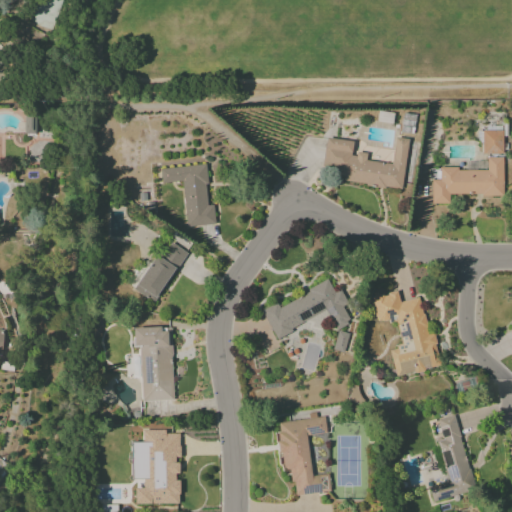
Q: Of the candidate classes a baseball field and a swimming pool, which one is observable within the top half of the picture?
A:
swimming pool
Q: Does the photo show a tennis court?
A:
Yes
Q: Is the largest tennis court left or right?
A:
right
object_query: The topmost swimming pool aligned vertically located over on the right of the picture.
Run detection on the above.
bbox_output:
[302,342,322,372]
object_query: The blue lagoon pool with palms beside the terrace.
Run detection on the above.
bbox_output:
[402,457,424,488]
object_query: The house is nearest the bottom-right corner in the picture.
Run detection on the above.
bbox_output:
[430,414,476,505]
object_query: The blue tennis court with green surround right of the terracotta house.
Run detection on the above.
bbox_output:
[332,424,367,499]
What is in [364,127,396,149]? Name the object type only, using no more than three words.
swimming pool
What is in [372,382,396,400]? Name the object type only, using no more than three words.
swimming pool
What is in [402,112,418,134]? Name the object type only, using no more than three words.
greenhouse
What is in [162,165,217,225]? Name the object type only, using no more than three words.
house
